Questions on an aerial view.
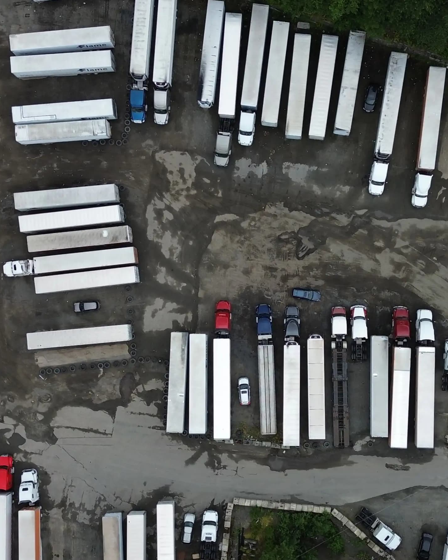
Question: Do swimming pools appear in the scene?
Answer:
No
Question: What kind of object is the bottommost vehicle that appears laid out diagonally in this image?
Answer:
truck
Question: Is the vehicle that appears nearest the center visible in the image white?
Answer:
No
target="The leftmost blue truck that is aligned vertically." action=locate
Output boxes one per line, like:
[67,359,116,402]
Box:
[127,78,149,124]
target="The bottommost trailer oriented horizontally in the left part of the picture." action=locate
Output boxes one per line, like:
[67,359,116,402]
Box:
[27,324,133,349]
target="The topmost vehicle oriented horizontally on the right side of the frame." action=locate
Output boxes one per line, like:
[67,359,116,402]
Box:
[292,287,321,302]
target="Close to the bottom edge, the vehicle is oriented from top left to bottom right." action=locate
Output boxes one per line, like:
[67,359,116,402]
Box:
[352,499,401,548]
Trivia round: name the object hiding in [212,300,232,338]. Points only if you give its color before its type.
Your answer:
red vehicle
